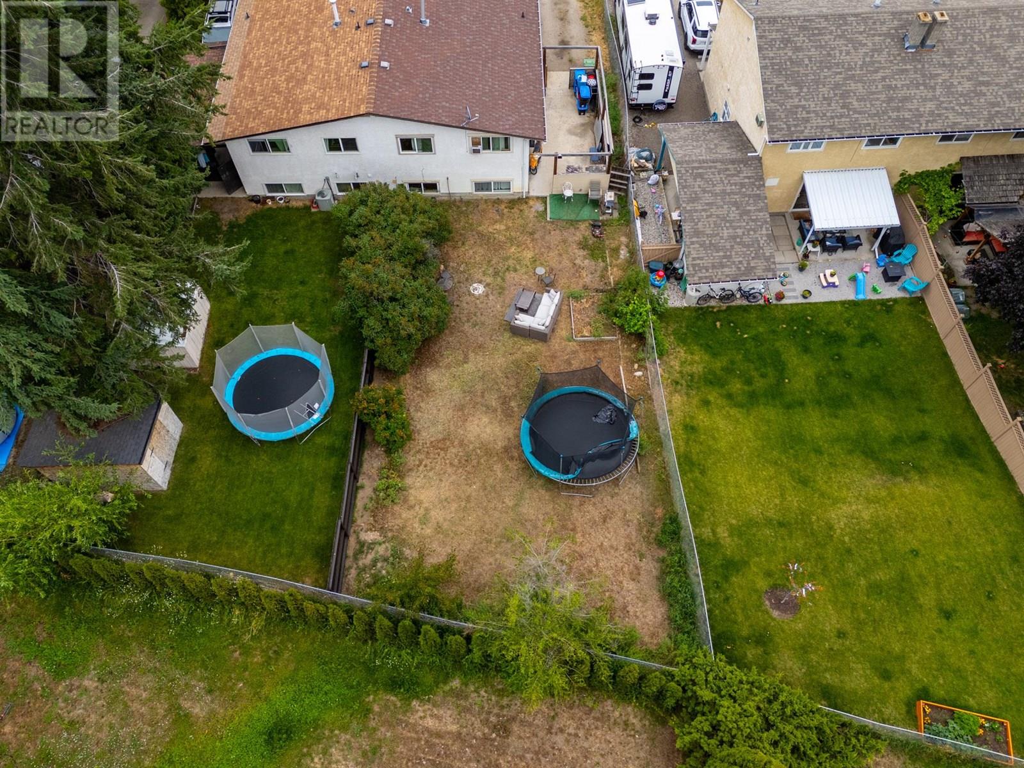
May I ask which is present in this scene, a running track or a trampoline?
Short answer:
trampoline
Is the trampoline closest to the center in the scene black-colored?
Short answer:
Yes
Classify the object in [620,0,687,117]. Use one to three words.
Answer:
trailer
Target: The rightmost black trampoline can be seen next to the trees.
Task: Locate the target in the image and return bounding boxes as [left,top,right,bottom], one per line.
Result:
[517,358,646,499]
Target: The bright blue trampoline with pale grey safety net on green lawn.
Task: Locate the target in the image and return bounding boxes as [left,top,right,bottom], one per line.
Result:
[204,320,336,449]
